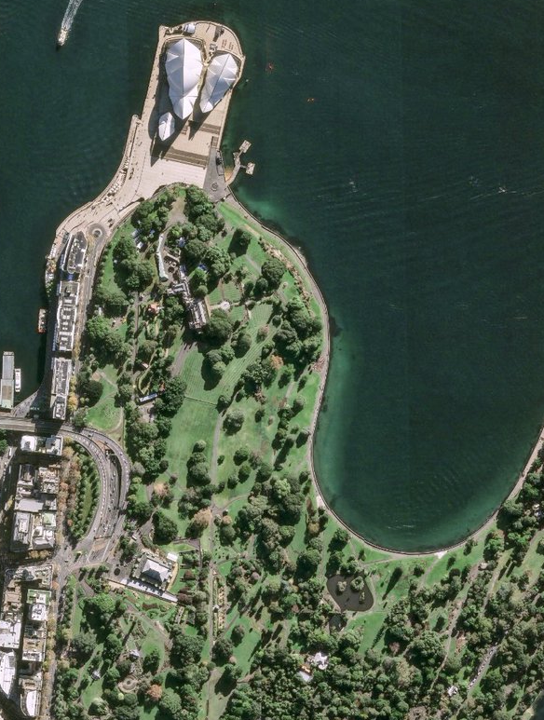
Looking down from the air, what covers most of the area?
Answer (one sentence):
The largest share of the image is taken up by water.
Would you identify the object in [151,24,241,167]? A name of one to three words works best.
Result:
building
